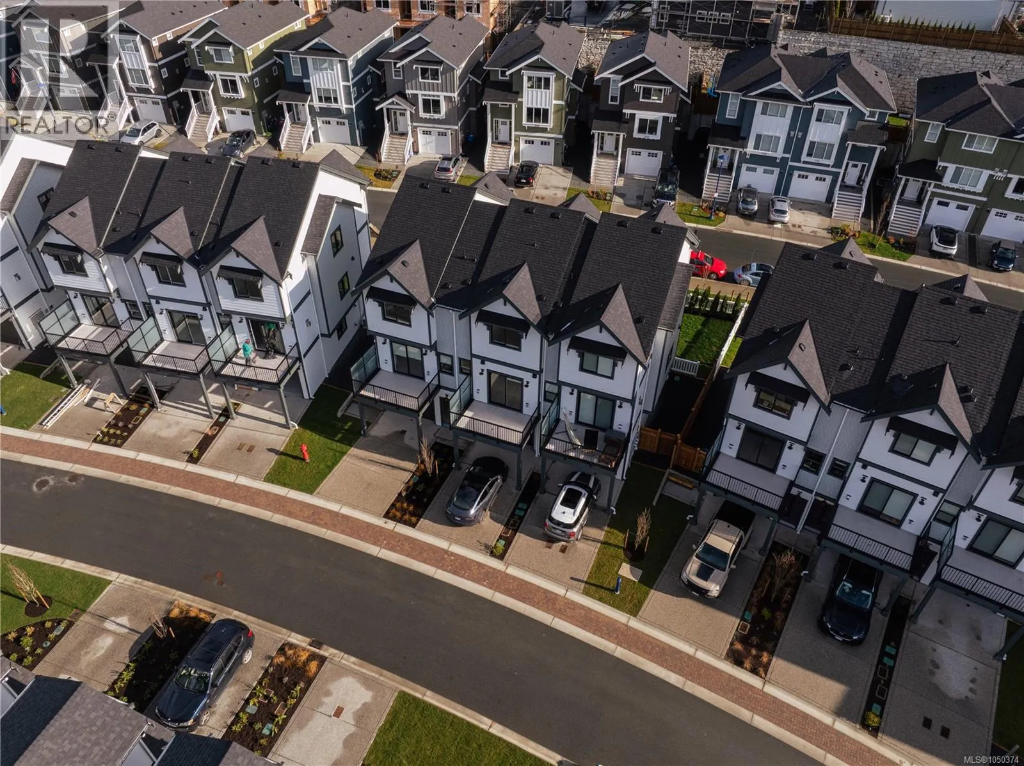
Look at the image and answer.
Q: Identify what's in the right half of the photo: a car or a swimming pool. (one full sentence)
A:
Visible in the right half of the photo is a car.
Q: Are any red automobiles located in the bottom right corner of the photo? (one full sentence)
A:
No, there's no red automobile to be seen in the bottom right corner of the photo.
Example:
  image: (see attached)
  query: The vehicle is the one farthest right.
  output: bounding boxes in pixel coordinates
[989,233,1024,268]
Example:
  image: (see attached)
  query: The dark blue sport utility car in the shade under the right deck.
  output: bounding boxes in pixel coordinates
[827,559,886,640]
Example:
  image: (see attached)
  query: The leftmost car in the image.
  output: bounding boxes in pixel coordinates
[116,113,165,138]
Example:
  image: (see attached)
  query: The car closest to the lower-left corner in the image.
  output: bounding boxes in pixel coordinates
[157,616,260,731]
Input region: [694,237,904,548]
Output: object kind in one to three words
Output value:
house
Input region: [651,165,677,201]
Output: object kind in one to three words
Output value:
car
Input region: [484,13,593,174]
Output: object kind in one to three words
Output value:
house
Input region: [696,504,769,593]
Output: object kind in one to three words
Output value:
vehicle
